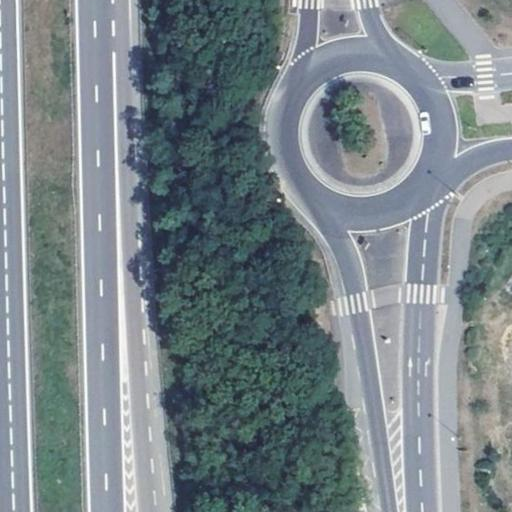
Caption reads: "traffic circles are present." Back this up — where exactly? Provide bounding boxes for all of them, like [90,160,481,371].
[264,36,458,231]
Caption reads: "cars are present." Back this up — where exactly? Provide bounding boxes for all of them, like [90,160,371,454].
[420,112,430,135]
[451,76,474,88]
